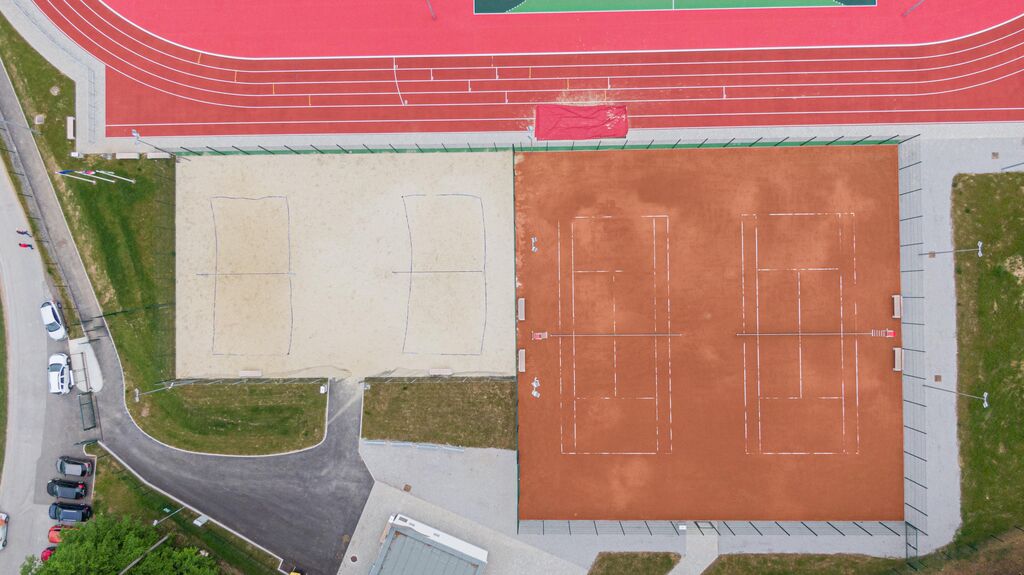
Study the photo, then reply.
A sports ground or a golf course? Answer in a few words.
sports ground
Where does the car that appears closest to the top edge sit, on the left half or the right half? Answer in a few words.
left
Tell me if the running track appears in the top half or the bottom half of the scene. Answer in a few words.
top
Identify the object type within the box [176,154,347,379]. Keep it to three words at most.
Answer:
sports court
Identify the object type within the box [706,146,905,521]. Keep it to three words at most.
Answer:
tennis court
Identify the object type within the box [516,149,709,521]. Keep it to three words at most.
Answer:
tennis court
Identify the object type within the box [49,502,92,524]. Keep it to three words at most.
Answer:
car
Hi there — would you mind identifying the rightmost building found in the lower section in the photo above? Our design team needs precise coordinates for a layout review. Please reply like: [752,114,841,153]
[370,513,488,575]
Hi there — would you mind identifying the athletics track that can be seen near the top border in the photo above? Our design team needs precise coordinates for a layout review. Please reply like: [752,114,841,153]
[32,0,1024,137]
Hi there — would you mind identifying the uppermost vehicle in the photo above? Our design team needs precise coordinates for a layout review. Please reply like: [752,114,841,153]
[38,301,68,342]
